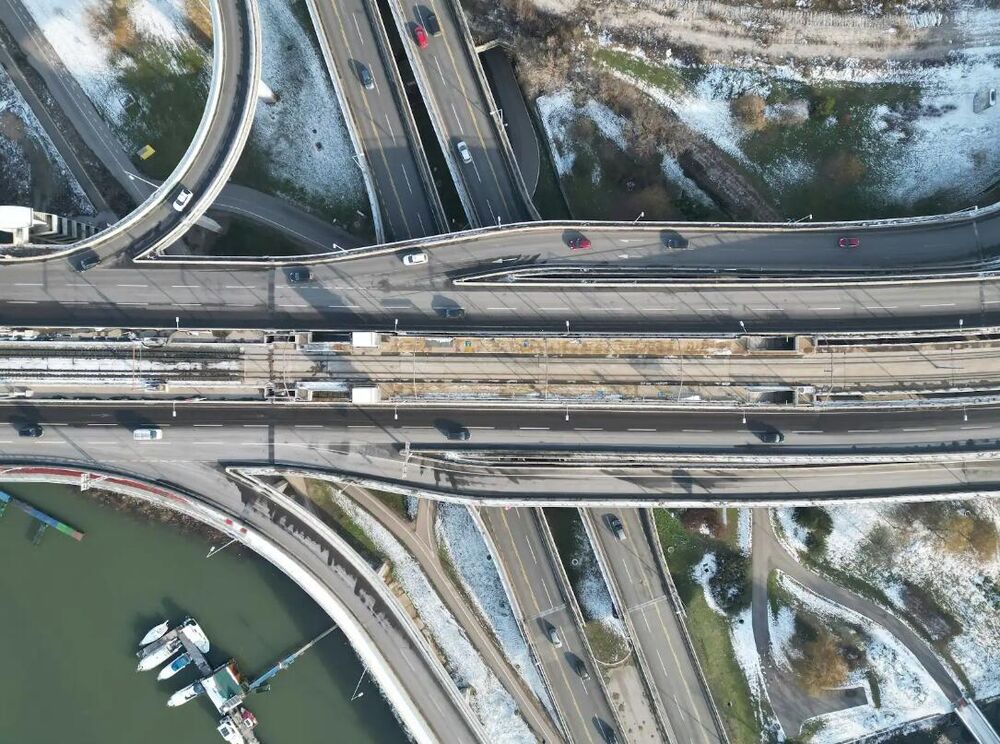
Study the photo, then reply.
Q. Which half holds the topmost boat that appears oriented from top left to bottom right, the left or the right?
left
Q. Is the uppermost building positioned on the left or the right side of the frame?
left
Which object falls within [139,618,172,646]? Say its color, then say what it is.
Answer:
white boat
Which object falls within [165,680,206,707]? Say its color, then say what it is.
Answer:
white boat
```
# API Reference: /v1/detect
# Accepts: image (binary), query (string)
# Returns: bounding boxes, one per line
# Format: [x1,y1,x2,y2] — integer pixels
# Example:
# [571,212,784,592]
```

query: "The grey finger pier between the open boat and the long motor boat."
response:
[134,629,181,659]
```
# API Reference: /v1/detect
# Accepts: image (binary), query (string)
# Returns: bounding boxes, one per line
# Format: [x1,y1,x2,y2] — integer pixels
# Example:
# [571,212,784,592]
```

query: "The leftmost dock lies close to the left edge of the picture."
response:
[0,486,85,543]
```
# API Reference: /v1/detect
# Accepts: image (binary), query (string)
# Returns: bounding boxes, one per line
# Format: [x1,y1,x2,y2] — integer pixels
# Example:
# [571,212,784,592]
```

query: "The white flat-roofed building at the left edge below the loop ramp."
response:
[0,206,77,243]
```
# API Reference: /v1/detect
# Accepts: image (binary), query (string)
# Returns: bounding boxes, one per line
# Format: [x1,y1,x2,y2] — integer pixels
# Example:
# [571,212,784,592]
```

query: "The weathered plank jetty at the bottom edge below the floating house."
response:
[226,707,262,744]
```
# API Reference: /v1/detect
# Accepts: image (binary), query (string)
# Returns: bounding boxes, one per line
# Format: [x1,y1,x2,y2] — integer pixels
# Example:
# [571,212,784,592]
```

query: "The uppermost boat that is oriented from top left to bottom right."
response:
[180,617,211,655]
